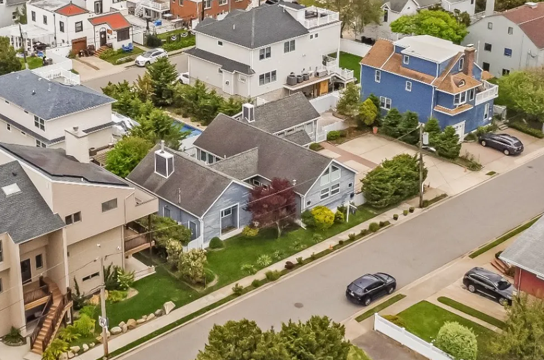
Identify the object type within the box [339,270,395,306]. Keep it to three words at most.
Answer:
car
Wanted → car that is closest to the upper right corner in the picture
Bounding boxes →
[477,132,525,155]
